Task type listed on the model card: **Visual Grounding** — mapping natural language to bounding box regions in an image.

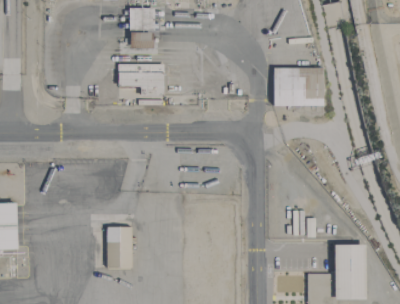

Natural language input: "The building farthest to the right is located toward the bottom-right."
[336,245,368,301]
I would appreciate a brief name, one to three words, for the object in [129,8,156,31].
building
